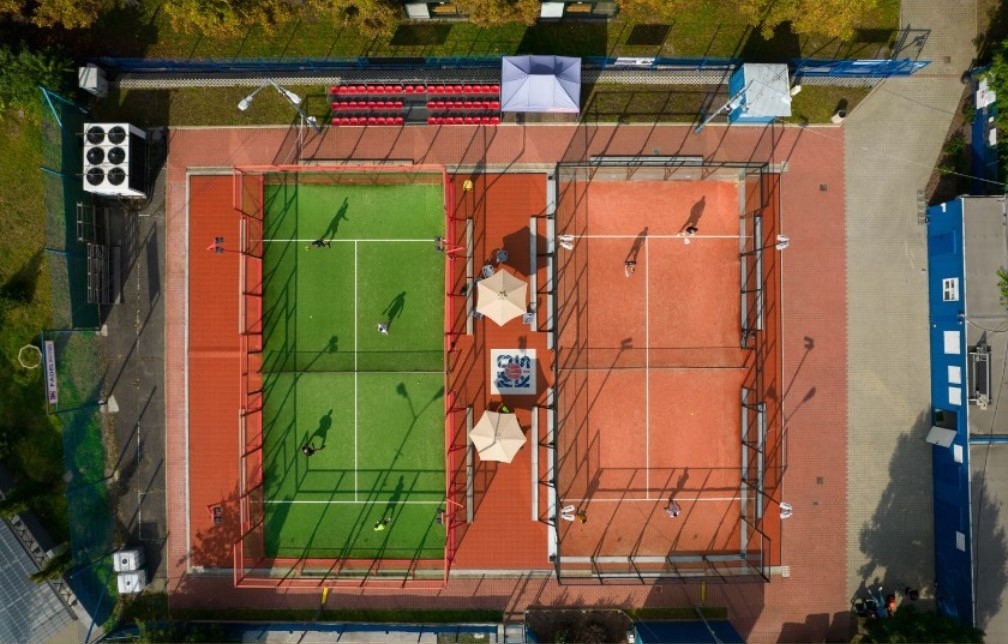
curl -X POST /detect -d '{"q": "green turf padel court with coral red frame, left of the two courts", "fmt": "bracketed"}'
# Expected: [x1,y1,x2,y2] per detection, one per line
[228,157,473,592]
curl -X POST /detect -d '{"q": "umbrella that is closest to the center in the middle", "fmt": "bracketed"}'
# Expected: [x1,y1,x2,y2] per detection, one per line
[476,267,528,325]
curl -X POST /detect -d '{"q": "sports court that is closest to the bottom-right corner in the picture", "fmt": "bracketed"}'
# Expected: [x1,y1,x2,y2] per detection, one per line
[530,155,774,590]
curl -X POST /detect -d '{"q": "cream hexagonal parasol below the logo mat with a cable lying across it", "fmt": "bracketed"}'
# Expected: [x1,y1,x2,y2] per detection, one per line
[470,410,528,462]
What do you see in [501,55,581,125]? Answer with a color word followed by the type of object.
white tent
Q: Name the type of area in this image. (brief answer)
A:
sports ground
